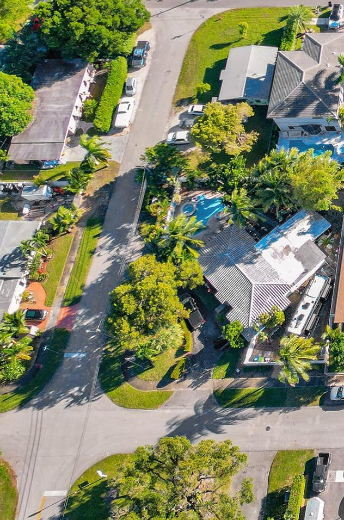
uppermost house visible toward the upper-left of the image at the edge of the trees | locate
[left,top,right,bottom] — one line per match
[7,58,95,165]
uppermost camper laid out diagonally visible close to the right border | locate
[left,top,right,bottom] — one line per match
[287,271,335,332]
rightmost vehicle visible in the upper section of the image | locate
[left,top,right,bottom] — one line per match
[329,5,343,28]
